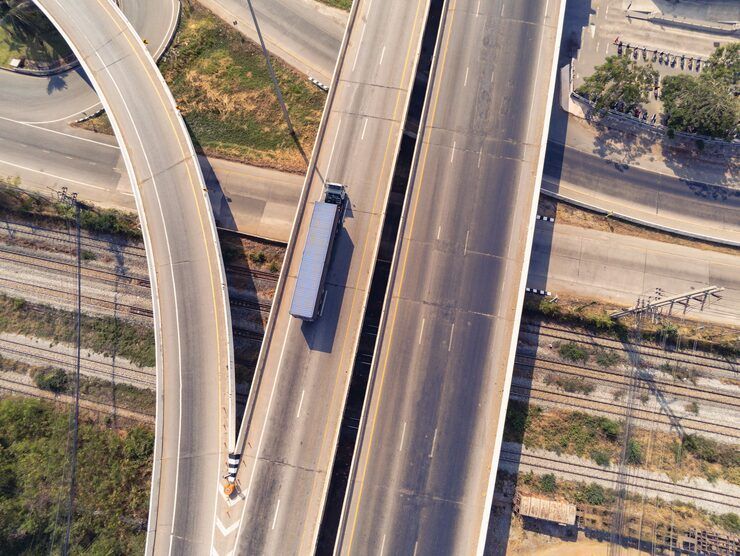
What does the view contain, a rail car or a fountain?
rail car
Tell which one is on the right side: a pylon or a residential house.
pylon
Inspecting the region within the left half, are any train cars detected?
No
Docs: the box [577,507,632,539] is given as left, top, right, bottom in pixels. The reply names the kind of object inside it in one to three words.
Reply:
rail car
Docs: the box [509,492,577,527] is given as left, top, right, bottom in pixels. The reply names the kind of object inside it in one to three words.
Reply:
rail car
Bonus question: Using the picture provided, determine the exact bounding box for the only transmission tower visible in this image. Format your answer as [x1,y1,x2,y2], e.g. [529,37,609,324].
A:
[610,287,730,328]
